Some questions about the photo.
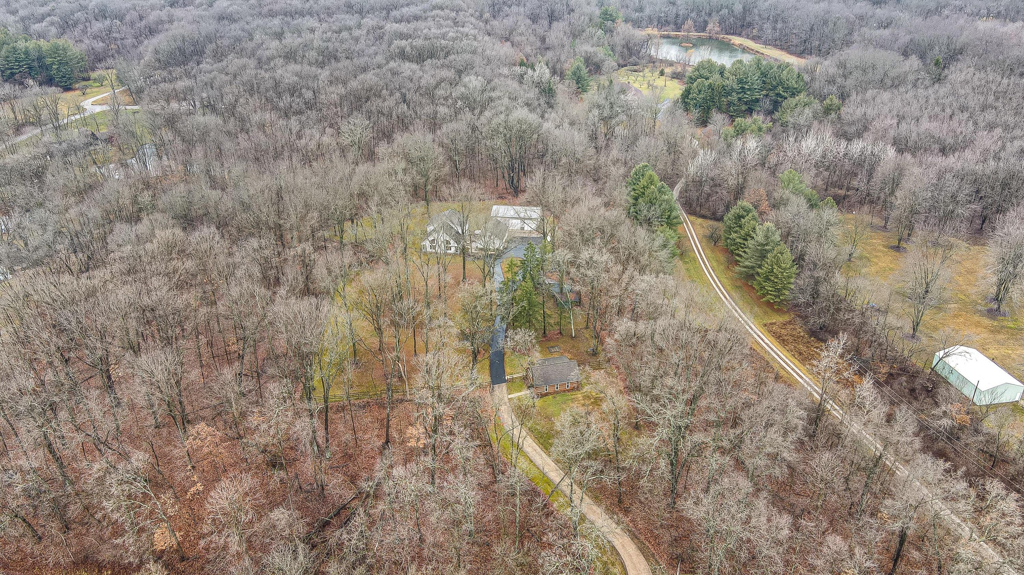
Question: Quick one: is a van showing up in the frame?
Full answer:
No, there is no van in the image.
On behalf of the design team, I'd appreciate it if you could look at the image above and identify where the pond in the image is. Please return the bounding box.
[647,36,759,69]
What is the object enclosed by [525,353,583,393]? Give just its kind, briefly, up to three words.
building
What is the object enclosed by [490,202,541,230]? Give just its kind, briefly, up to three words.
barn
